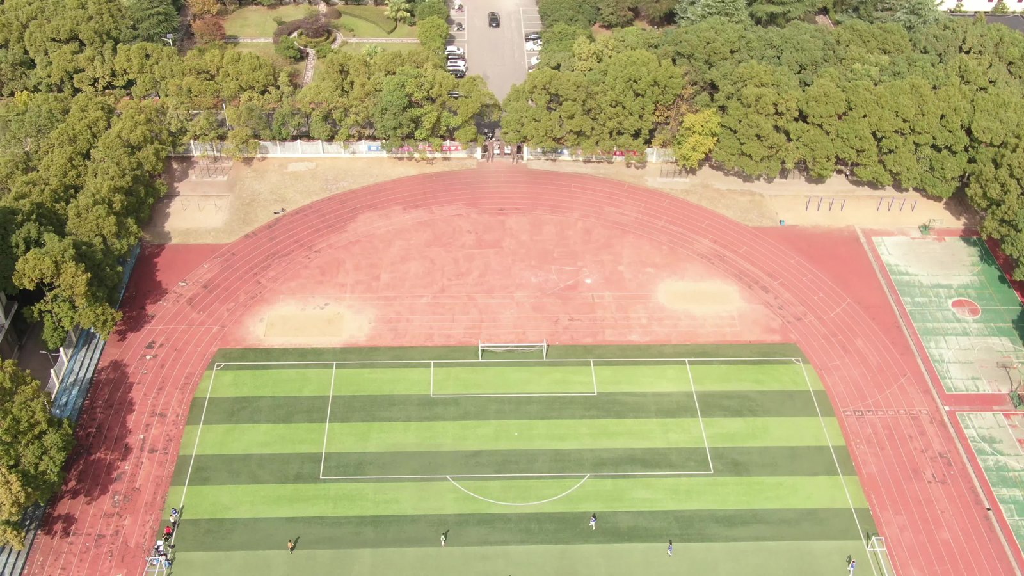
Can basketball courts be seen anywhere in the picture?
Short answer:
Yes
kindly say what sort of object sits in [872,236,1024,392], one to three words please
basketball court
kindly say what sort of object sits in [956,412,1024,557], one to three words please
basketball court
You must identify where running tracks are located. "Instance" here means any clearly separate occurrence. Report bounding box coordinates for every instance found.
[20,157,1018,576]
